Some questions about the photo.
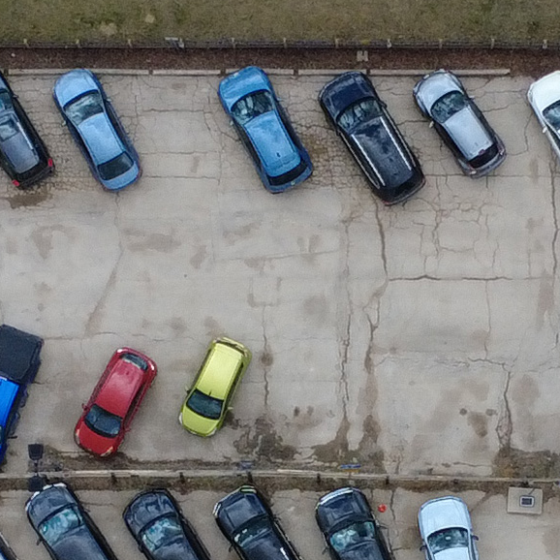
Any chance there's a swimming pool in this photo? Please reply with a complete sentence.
No, the scene contains no swimming pool.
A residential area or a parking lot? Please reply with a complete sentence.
This looks like a parking lot.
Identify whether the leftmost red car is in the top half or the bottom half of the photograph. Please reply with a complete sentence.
It is in the bottom half that the leftmost red car appears.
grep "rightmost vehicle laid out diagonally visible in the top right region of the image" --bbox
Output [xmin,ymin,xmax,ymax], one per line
[418,68,505,178]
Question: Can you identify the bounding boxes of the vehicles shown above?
[76,348,159,455]
[124,488,214,560]
[26,484,122,560]
[55,67,144,195]
[0,324,48,469]
[320,69,425,209]
[315,488,396,560]
[418,68,505,178]
[177,337,251,436]
[220,67,311,195]
[0,66,57,191]
[212,485,302,560]
[418,495,482,560]
[530,69,560,161]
